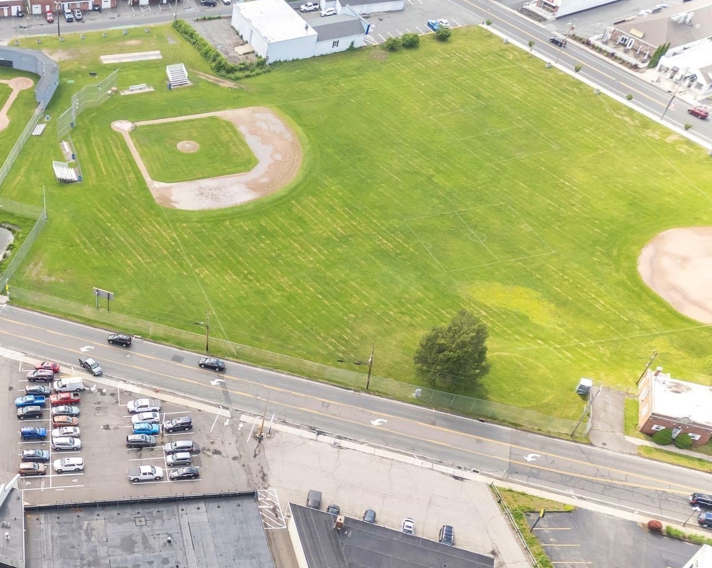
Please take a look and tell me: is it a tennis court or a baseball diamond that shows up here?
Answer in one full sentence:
Looking from above, you can make out a baseball diamond.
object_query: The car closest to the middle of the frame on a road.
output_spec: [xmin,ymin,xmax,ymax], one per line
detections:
[198,357,226,373]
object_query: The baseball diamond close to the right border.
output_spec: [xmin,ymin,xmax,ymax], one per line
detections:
[521,94,712,349]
